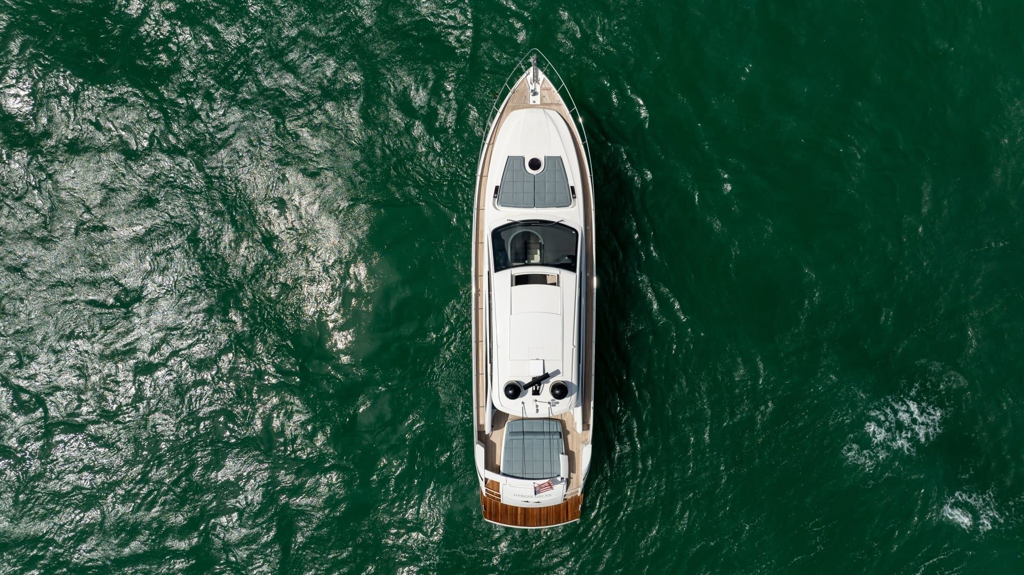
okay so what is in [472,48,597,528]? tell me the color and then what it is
white boat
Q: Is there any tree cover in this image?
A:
No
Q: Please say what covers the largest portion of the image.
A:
water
